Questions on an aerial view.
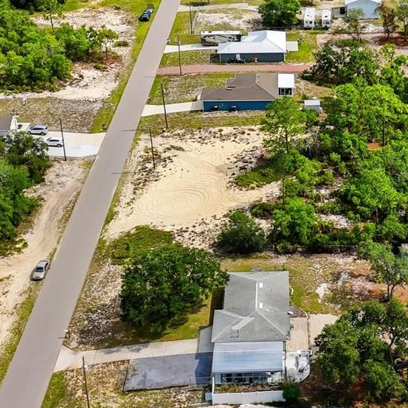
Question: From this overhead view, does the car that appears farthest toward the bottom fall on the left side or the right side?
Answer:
left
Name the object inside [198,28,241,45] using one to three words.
camper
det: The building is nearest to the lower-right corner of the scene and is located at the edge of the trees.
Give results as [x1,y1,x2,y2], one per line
[209,270,289,387]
